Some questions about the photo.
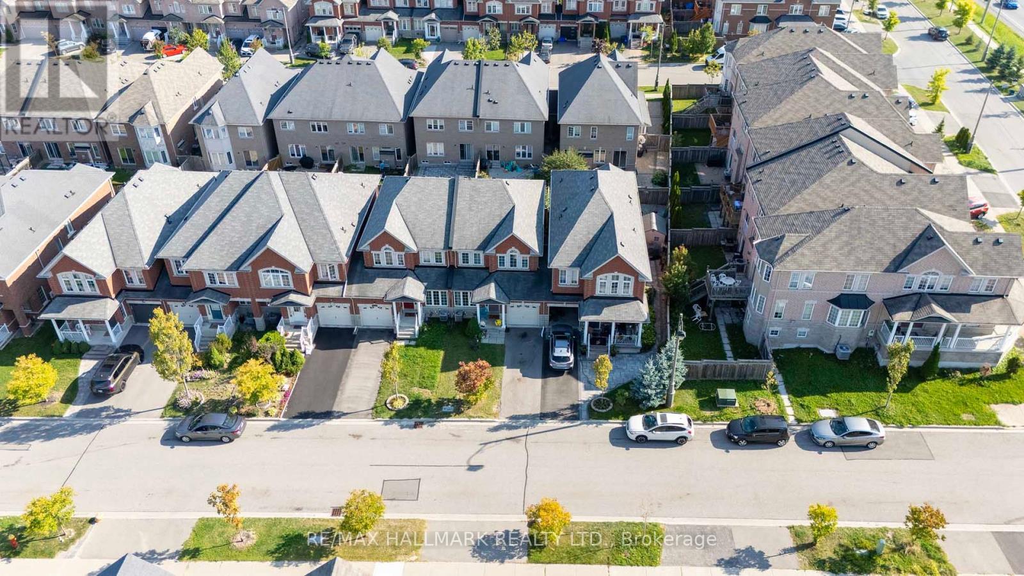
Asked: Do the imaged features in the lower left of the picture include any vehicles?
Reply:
Yes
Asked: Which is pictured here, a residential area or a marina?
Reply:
residential area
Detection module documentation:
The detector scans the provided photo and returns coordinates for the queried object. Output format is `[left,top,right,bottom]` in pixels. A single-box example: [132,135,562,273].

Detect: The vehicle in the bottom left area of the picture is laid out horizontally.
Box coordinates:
[174,408,252,442]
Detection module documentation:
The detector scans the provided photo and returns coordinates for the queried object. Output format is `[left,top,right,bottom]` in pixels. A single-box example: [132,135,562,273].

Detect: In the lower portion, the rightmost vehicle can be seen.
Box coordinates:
[806,413,889,448]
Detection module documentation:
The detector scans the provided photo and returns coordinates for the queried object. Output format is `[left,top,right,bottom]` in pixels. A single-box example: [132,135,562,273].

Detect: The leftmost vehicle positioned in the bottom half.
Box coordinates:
[89,334,144,383]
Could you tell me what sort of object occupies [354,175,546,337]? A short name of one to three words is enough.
house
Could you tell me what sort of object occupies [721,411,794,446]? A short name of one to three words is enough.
car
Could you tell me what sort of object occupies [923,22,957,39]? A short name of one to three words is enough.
car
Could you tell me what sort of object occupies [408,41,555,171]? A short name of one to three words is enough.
house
